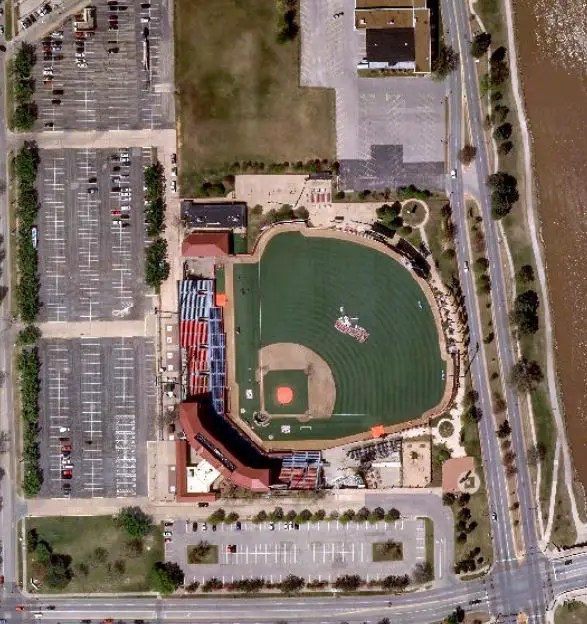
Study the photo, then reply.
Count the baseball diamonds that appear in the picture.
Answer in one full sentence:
Only 1 baseball diamond is visible.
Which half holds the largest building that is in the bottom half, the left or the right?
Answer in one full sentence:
The largest building that is in the bottom half appears in the left half of the scene.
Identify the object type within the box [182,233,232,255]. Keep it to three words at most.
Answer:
building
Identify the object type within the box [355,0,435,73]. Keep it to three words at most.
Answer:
building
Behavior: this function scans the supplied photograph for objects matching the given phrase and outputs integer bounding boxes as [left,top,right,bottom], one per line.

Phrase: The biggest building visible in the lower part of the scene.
[177,441,224,503]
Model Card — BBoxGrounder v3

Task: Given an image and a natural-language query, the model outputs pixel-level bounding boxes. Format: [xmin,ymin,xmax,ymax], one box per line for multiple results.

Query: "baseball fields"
[216,222,454,450]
